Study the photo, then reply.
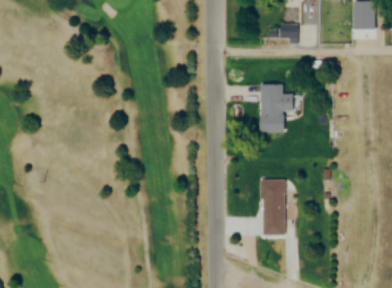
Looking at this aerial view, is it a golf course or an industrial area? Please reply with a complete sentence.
The area seen from above is a golf course.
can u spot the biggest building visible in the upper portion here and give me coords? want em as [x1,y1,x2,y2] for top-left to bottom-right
[260,84,295,132]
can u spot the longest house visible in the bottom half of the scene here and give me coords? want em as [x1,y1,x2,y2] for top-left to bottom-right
[261,180,286,235]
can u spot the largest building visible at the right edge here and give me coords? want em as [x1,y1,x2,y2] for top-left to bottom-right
[354,1,376,40]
